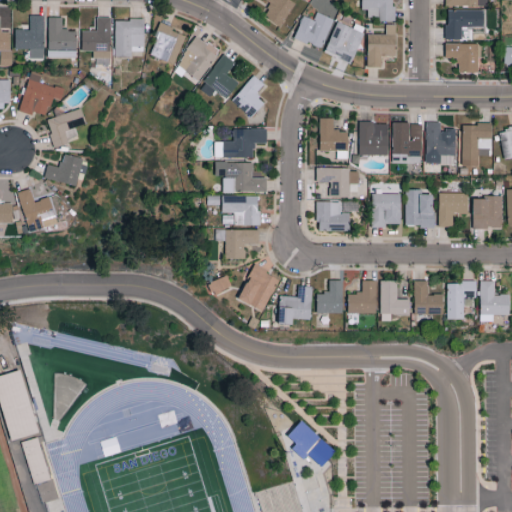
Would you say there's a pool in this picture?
Yes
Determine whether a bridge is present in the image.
No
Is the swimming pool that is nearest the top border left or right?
left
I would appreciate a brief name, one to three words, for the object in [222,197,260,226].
house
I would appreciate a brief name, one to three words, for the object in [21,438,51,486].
building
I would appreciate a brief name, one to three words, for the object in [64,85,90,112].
swimming pool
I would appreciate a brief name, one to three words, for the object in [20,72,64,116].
house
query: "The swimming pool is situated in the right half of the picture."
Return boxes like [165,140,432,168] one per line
[360,156,390,174]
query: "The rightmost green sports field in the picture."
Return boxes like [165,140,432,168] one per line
[80,429,234,512]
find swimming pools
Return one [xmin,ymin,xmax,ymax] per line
[64,85,90,112]
[360,156,390,174]
[196,133,214,160]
